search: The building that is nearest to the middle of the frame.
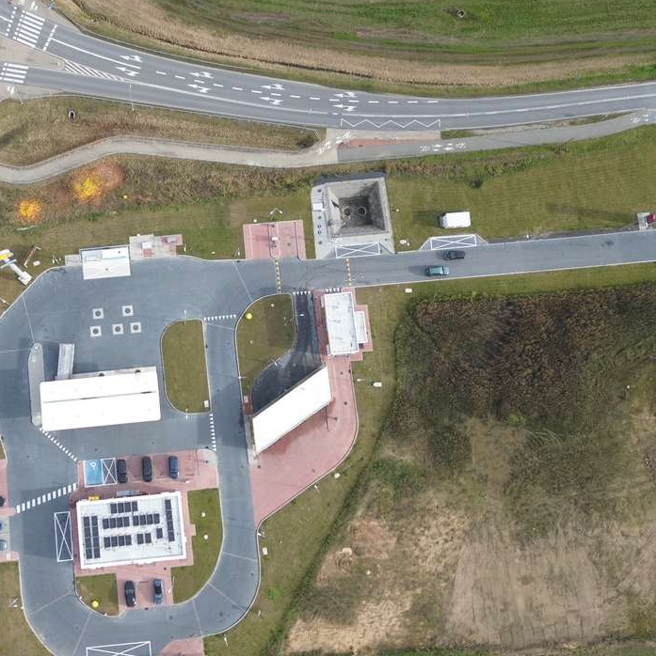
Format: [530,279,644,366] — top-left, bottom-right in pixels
[316,292,368,356]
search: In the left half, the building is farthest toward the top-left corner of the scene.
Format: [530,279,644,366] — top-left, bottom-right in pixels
[79,243,132,282]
